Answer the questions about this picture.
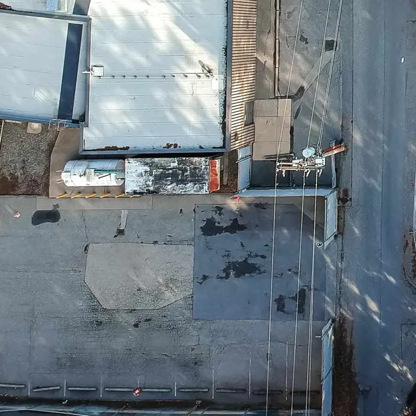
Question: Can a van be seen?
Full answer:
No, no van is visible in the scene.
